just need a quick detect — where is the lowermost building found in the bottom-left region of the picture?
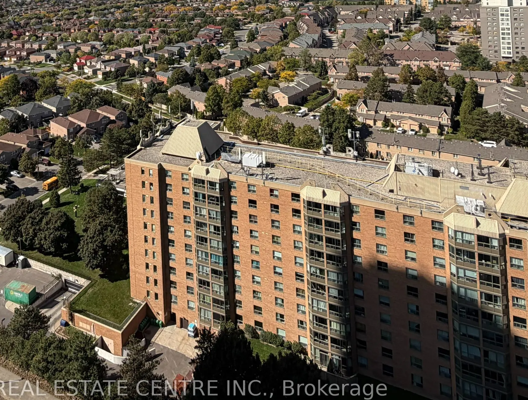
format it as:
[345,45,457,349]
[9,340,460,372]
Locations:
[62,276,143,364]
